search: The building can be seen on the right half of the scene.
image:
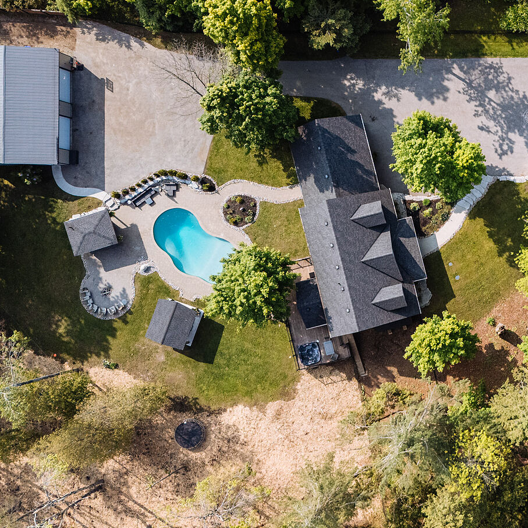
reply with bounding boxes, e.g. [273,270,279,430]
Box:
[284,115,428,338]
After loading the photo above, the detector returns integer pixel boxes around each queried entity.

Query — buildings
[284,115,428,338]
[0,44,73,166]
[146,298,205,350]
[63,208,126,257]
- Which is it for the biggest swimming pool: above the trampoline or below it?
above it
